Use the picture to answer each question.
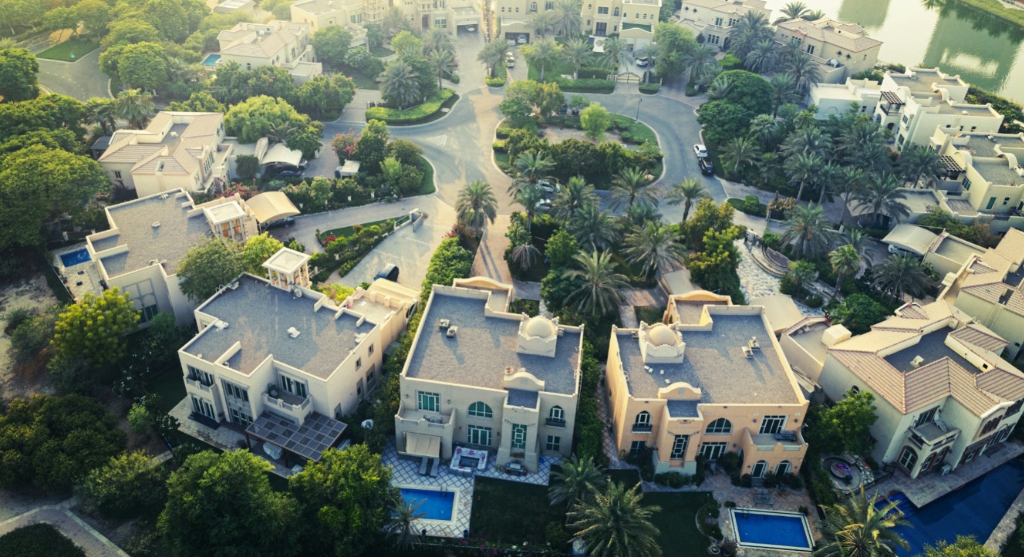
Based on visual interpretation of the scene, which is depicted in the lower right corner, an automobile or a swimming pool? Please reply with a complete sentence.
It is a swimming pool that can be seen in the lower right corner.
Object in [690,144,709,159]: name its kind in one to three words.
car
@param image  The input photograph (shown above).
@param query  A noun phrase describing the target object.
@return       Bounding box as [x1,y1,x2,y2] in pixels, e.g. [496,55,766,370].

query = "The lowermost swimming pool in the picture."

[725,506,820,556]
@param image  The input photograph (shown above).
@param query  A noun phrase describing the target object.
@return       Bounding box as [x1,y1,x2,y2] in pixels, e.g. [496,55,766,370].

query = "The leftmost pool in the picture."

[59,245,94,268]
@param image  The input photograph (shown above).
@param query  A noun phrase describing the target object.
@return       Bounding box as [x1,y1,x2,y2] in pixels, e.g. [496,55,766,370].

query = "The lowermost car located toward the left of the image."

[369,262,405,283]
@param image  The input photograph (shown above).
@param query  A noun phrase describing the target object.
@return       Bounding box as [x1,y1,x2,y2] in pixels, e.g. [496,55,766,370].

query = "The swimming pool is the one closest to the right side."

[847,451,1024,557]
